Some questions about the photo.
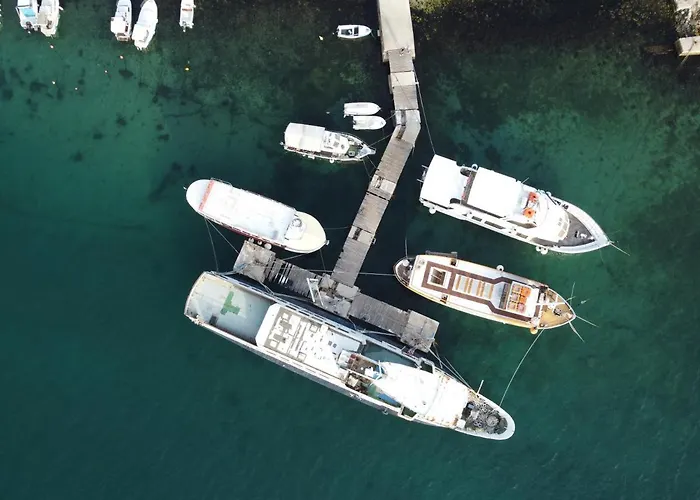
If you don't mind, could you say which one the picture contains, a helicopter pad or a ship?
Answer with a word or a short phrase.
ship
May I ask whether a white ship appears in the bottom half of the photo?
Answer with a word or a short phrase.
Yes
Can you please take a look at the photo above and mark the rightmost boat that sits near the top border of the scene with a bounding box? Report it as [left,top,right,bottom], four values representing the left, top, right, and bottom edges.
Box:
[336,25,373,39]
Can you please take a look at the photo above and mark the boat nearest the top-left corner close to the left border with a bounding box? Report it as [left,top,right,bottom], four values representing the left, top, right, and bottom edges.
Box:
[16,0,40,33]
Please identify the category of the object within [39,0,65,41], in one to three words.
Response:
boat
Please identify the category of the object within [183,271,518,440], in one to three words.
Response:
ship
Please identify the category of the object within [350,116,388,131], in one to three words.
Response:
boat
